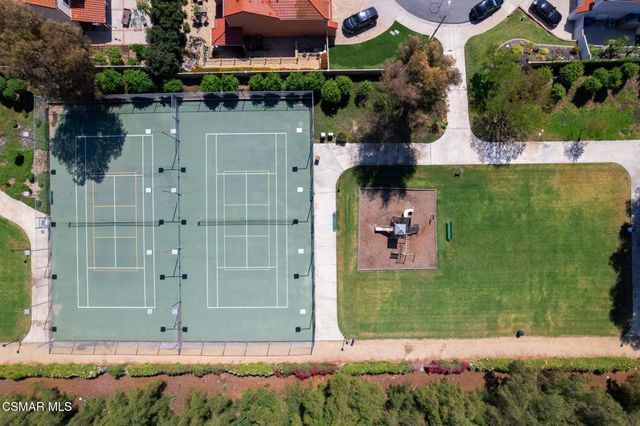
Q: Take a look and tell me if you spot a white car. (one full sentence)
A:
No, there is no white car in the image.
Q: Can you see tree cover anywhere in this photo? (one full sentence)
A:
Yes, the picture does contain tree cover.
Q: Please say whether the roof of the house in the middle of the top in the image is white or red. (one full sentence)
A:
The color of the roof of the house in the middle of the top is red.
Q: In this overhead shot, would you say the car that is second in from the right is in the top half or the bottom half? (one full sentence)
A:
The top half of the photo is where the car that is second in from the right is.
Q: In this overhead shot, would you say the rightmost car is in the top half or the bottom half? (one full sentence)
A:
The top half of the photo is where the rightmost car is.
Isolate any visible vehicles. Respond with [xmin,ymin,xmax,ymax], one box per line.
[528,0,563,28]
[468,0,506,24]
[342,7,379,34]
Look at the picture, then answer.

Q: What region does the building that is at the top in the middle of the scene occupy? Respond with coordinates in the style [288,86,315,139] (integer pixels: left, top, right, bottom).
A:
[211,0,338,52]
